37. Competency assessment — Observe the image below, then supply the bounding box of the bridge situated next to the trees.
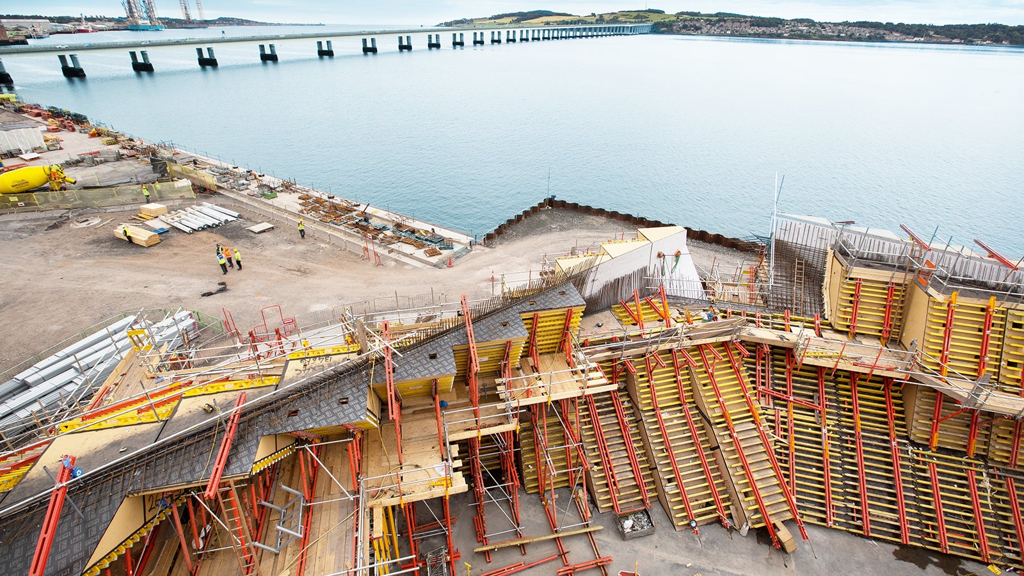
[0,22,654,86]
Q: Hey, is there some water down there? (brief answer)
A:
Yes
